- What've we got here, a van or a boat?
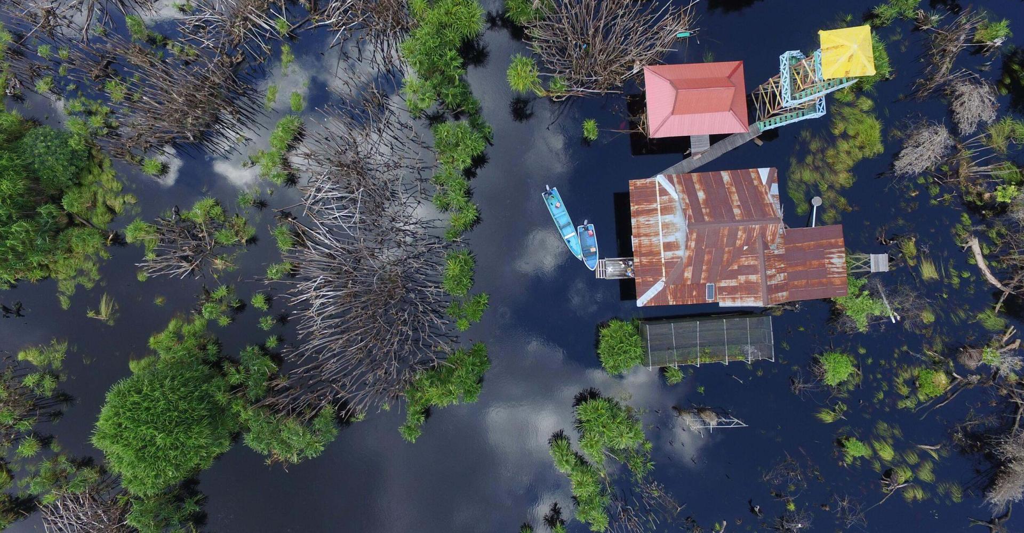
boat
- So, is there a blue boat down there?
Yes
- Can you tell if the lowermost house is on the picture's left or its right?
right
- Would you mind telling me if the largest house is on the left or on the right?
right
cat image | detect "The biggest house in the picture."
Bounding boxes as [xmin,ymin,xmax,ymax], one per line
[628,166,848,307]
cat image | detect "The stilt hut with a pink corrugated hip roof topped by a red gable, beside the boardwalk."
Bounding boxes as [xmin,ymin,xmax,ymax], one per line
[642,59,750,142]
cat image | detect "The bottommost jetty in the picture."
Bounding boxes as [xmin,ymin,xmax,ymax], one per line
[596,256,635,280]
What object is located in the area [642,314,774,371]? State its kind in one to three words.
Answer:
house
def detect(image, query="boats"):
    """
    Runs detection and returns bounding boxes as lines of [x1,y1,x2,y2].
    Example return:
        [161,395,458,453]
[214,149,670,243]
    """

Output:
[577,218,598,270]
[542,184,582,261]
